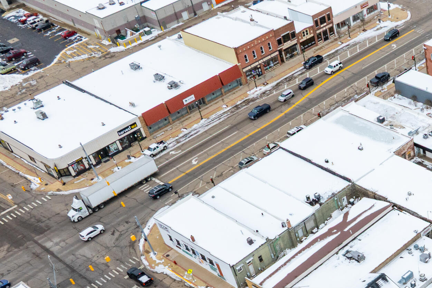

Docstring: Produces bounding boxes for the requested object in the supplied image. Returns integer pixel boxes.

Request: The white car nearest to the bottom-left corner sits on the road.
[79,225,106,241]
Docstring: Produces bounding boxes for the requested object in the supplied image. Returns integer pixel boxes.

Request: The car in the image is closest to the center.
[237,156,260,168]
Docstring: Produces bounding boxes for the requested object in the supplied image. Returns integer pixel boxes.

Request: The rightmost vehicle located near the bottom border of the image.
[124,267,155,285]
